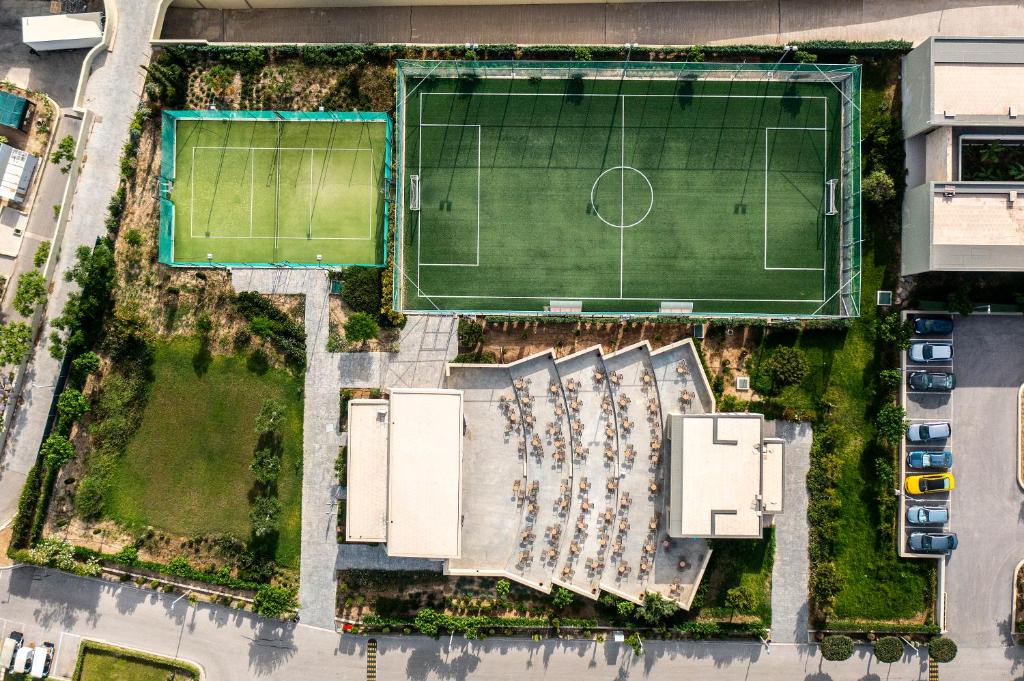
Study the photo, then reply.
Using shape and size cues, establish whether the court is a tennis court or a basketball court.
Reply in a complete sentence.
It turns out the court is a tennis court.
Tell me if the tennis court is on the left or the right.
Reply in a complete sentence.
The tennis court sits on the left side.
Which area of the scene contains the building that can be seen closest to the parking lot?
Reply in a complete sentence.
The building that can be seen closest to the parking lot appears toward the top right of the photo.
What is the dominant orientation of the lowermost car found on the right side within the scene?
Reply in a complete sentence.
What the image shows is the lowermost car found on the right side lying from side to side.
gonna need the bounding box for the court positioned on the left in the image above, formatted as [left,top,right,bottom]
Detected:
[172,121,388,268]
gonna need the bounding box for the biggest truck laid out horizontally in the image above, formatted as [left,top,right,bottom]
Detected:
[23,12,116,55]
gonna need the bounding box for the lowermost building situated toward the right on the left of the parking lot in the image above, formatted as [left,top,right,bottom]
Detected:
[660,412,785,539]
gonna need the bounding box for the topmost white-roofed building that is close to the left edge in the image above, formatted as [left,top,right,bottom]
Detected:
[0,139,41,207]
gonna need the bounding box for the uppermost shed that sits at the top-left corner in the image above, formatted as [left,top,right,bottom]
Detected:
[0,91,31,132]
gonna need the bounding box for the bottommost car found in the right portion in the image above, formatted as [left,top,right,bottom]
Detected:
[907,531,957,554]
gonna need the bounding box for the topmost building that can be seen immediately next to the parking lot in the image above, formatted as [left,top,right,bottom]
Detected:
[901,37,1024,279]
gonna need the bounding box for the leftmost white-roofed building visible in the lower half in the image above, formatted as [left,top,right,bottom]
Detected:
[346,388,469,559]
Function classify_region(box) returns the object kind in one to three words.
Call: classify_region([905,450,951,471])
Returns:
car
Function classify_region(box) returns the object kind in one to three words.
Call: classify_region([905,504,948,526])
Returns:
car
